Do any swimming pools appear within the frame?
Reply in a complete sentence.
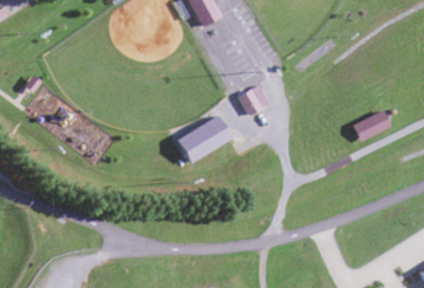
No, there isn't any swimming pool down there.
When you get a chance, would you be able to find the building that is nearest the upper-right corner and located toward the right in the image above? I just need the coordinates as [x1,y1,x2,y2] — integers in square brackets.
[352,112,392,142]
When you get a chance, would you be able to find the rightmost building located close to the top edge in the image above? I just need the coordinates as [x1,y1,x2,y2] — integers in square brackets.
[189,0,222,26]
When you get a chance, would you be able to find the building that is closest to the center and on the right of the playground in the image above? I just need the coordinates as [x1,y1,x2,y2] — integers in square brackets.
[178,116,231,163]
